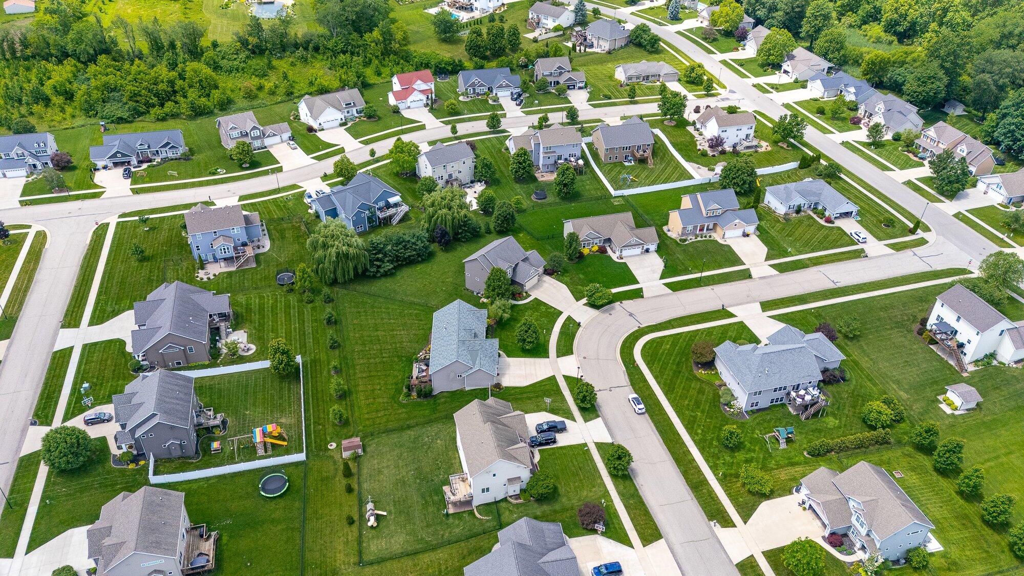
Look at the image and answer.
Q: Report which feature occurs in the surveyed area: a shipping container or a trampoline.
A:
trampoline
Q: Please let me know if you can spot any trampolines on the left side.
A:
Yes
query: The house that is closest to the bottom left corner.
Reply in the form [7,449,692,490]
[86,489,221,576]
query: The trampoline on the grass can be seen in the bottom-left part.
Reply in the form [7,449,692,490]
[255,465,289,499]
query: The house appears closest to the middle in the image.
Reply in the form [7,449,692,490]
[463,238,547,298]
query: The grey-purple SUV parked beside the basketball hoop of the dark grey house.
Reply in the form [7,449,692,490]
[79,409,114,425]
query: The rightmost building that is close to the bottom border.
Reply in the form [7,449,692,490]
[798,463,936,560]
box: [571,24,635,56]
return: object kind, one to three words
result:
house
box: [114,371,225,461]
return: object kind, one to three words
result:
house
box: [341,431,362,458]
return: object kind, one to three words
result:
shed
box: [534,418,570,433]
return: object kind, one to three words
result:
vehicle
